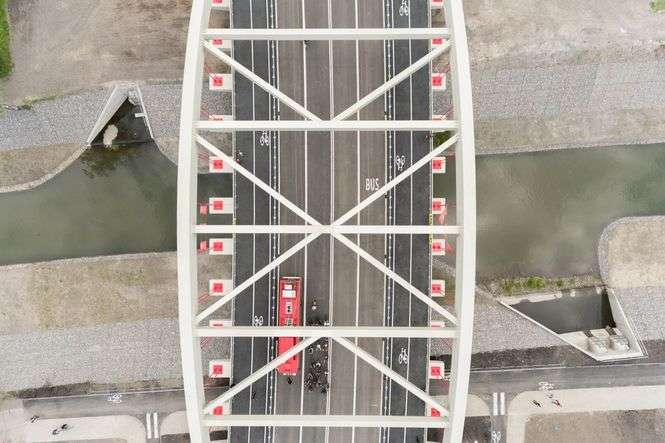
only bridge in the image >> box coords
[175,0,477,443]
